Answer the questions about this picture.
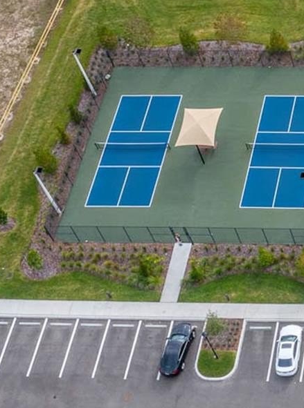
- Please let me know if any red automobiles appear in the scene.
No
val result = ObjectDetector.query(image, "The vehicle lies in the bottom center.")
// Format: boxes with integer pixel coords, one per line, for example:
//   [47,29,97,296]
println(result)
[158,322,196,378]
